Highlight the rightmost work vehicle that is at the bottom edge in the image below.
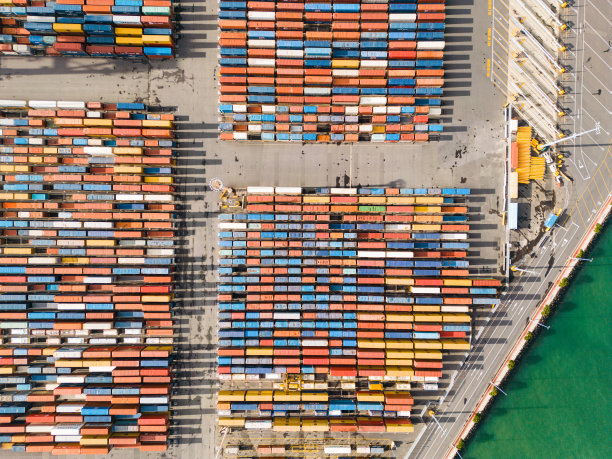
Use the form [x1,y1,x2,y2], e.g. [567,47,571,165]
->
[376,434,395,457]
